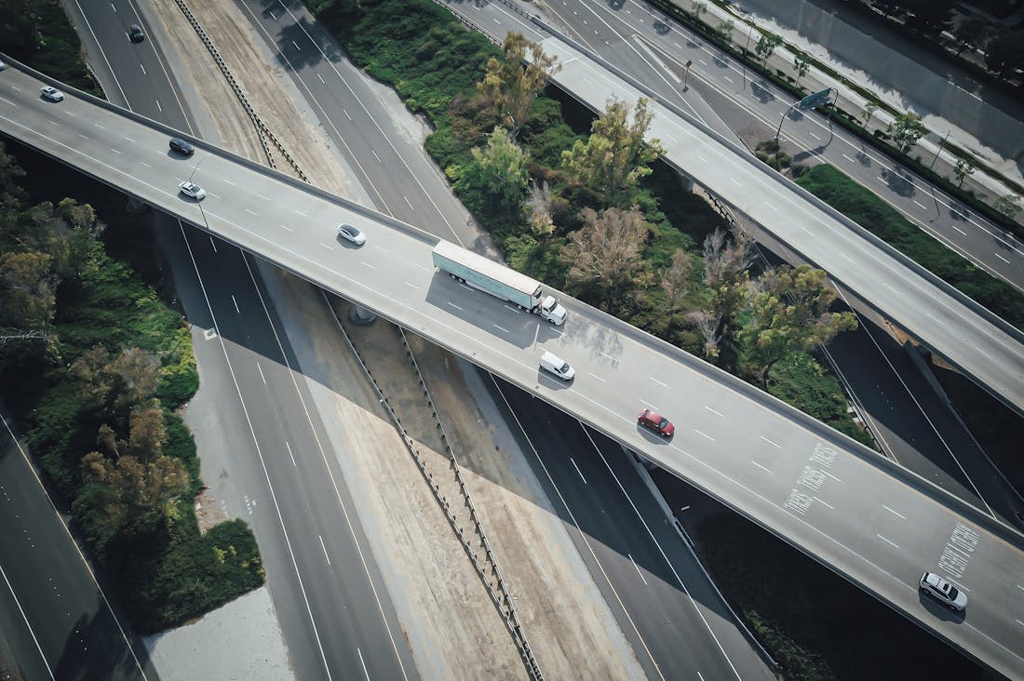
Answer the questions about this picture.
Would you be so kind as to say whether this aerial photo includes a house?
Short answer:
No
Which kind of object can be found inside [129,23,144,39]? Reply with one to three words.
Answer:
car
